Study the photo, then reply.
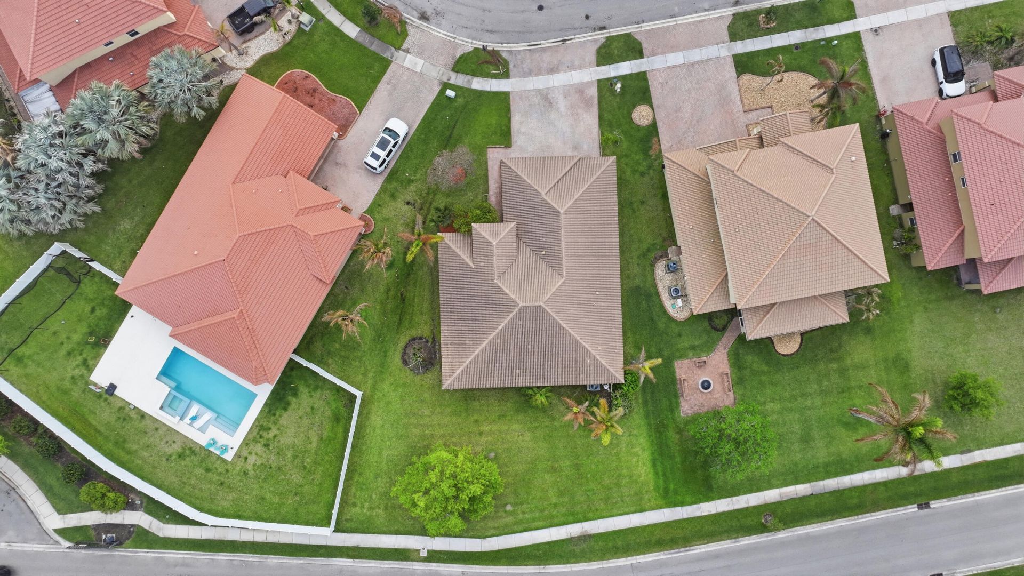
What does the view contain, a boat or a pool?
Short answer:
pool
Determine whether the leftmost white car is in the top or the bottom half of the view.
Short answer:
top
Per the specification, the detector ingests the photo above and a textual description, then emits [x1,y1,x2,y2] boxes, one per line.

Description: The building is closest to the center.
[436,155,624,390]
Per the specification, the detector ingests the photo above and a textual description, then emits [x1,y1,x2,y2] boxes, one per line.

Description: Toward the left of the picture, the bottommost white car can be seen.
[364,118,407,175]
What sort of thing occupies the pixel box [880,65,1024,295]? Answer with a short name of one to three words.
house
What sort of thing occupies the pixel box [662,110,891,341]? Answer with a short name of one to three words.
house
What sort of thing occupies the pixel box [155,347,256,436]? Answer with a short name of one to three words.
swimming pool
